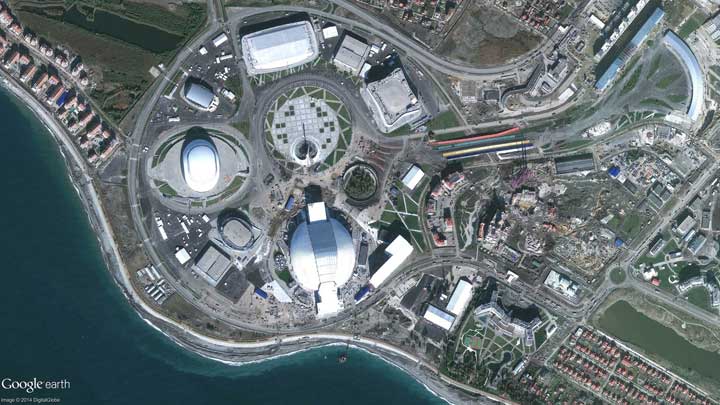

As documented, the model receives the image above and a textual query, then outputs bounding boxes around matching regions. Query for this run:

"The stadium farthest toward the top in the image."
[242,20,319,75]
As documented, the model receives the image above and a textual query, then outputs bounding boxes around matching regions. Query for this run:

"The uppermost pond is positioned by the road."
[64,4,185,53]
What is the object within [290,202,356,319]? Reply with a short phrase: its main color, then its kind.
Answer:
white stadium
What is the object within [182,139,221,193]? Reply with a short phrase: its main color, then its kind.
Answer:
white stadium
